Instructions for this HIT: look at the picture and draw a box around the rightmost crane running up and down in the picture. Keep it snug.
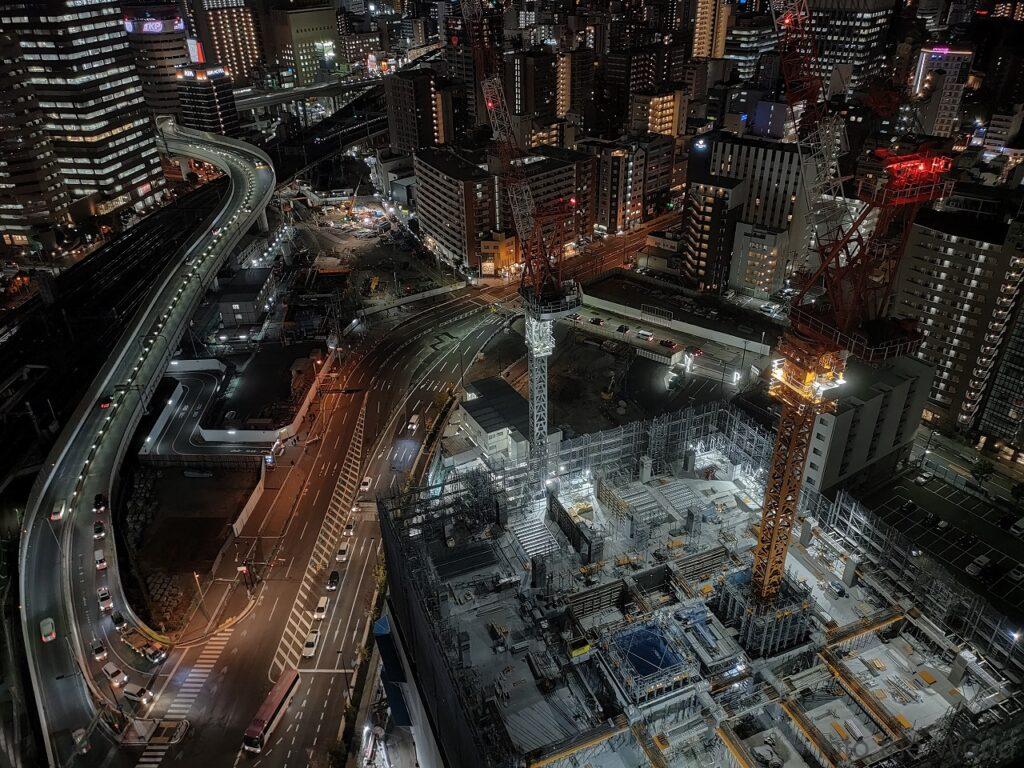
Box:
[745,0,956,638]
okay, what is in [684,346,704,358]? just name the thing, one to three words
vehicle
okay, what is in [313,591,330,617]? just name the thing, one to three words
car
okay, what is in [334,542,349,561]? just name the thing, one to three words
car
